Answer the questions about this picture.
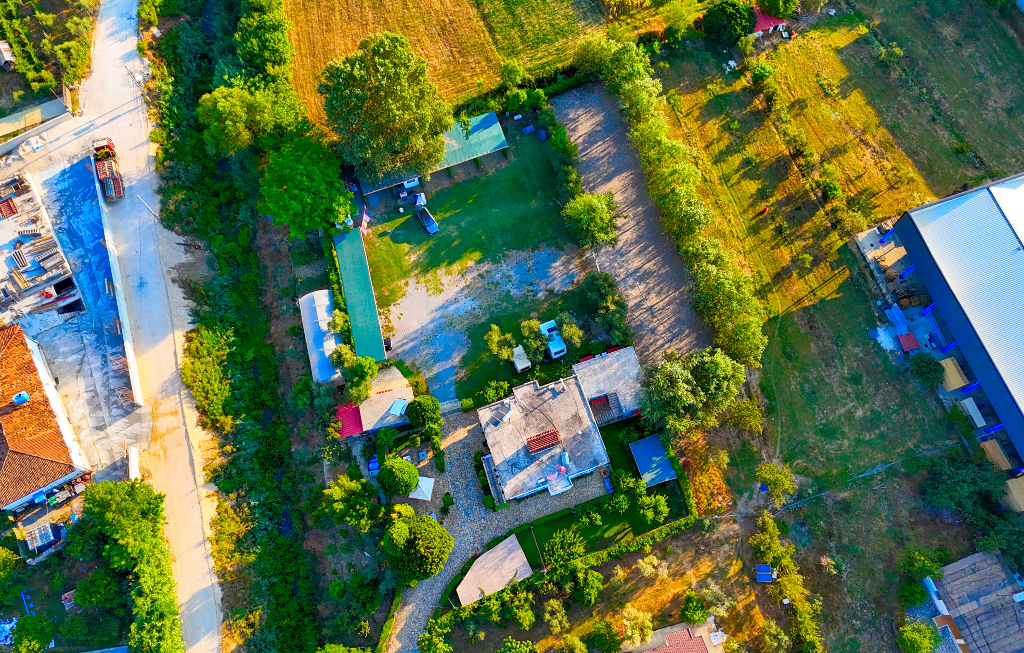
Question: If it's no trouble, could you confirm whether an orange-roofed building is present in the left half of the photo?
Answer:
Yes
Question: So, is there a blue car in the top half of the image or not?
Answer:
Yes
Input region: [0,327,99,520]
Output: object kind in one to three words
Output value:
house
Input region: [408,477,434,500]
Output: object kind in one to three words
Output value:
umbrella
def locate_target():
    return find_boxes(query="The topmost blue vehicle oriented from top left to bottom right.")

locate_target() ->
[415,205,440,237]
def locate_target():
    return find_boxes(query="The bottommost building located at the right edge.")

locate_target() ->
[925,553,1024,653]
